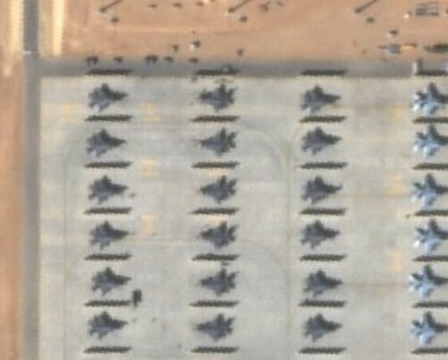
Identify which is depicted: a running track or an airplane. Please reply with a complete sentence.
The one in the frame is an airplane.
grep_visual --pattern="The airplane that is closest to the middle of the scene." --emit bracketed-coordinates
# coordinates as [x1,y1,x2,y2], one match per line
[196,180,232,203]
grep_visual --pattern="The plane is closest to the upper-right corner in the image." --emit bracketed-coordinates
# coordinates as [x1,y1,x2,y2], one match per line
[411,88,448,114]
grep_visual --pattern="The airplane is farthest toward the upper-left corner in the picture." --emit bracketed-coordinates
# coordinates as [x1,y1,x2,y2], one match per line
[89,87,124,111]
